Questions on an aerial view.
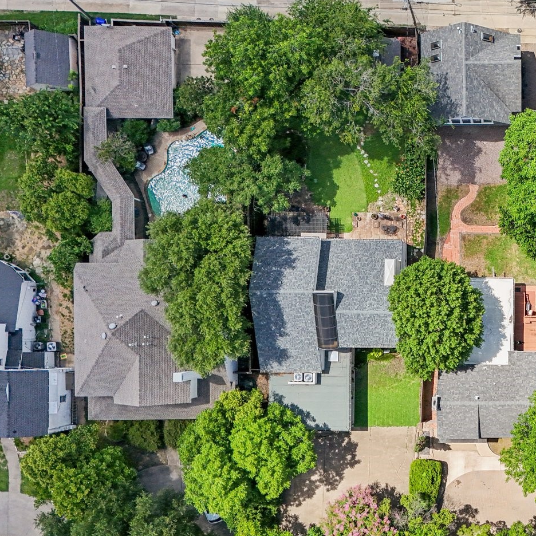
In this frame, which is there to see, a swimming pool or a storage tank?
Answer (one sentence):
Visible in the photo is a swimming pool.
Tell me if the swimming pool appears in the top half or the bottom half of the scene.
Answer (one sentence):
The top half of the photo is where the swimming pool is.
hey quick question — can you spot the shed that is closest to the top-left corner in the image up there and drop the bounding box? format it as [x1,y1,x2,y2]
[24,30,78,92]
